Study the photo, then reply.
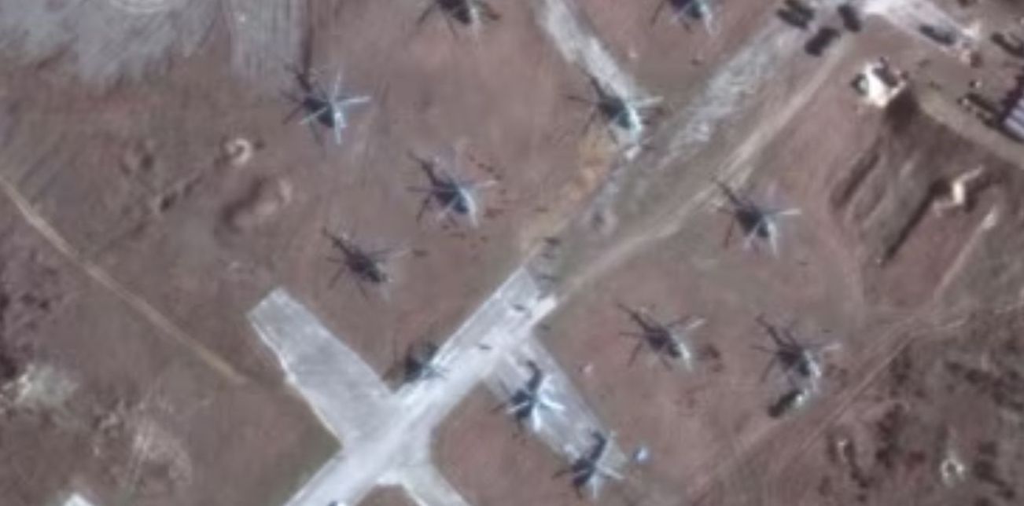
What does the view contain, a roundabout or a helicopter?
helicopter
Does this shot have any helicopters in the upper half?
Yes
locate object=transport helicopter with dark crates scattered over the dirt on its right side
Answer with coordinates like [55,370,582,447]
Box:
[425,153,495,221]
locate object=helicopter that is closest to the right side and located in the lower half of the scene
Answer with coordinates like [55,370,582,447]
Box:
[771,312,839,382]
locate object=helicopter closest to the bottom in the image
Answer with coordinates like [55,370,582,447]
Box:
[568,429,623,495]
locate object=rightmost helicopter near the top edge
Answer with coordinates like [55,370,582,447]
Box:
[672,0,712,26]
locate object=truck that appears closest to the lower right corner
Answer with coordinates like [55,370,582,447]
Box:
[771,391,805,415]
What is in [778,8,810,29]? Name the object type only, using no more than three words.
truck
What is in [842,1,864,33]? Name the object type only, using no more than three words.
truck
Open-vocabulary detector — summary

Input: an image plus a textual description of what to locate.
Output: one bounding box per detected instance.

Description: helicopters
[729,179,798,248]
[633,296,702,363]
[401,335,457,398]
[508,364,564,430]
[568,429,623,495]
[593,65,663,137]
[338,222,407,291]
[436,0,476,31]
[672,0,712,26]
[771,312,839,382]
[303,62,369,138]
[425,153,495,221]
